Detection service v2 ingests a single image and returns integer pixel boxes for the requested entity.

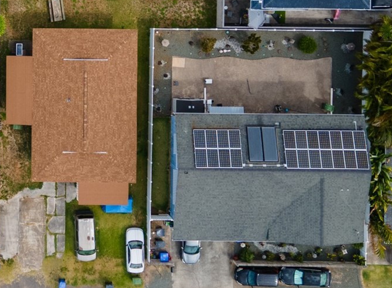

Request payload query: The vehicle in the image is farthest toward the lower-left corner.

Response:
[74,207,99,261]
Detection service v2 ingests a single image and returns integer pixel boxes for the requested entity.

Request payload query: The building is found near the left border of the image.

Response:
[7,28,138,205]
